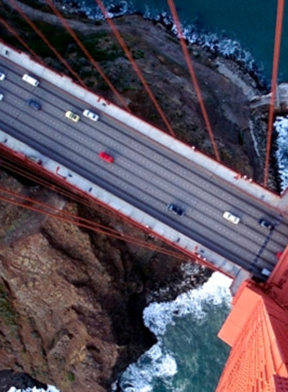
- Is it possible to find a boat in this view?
No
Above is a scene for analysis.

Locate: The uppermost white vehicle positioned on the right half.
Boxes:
[223,212,241,225]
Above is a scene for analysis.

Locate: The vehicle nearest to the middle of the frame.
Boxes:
[168,203,186,217]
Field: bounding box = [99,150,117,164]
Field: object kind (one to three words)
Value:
vehicle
